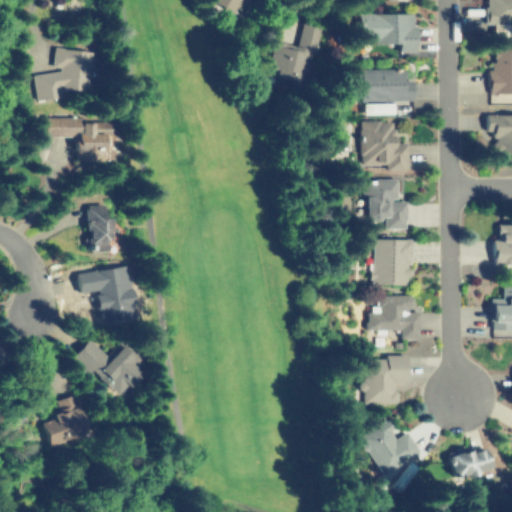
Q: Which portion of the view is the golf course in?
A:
center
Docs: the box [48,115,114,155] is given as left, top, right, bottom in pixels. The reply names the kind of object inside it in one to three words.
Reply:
house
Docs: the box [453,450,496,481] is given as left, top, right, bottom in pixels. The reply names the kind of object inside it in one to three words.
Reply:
house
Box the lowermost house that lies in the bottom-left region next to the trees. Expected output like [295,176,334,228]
[43,396,90,448]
